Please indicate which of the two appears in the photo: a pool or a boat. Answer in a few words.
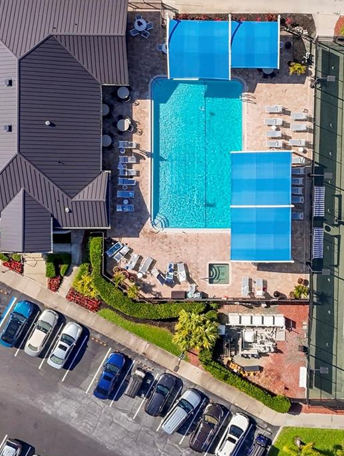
pool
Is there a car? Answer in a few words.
Yes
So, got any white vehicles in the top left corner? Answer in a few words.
No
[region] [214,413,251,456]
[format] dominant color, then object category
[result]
white car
